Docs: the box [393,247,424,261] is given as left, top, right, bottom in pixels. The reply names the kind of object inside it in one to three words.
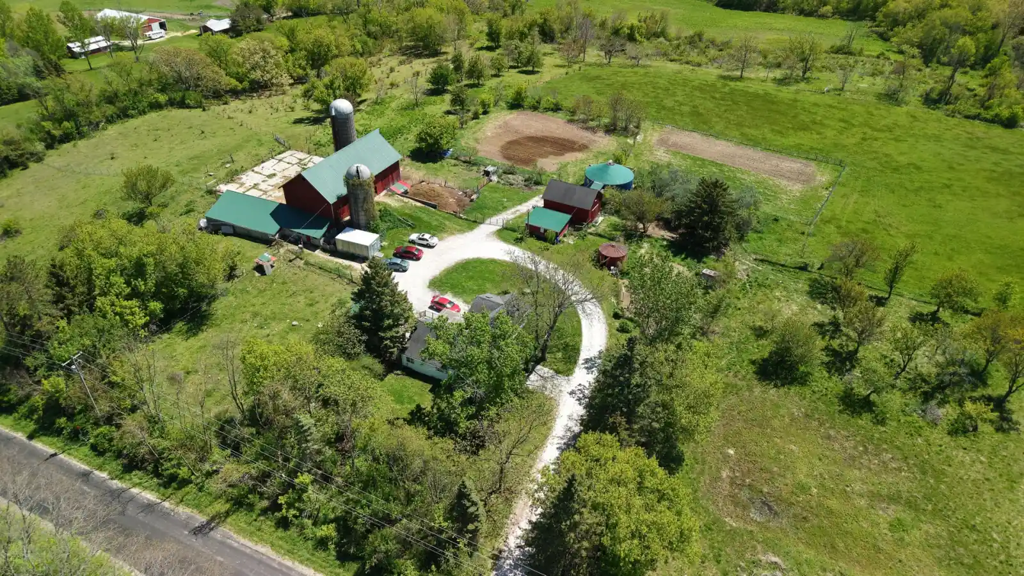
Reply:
car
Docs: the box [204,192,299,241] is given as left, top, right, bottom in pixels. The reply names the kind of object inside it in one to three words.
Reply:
shed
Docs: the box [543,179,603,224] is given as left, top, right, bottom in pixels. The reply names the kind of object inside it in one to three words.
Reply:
building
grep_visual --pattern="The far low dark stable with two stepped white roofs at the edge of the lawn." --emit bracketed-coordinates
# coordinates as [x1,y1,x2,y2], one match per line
[73,40,112,61]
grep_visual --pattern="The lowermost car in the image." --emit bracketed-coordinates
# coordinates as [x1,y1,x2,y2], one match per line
[427,294,458,310]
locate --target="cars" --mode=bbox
[427,294,458,310]
[393,247,424,261]
[385,258,411,272]
[409,234,438,248]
